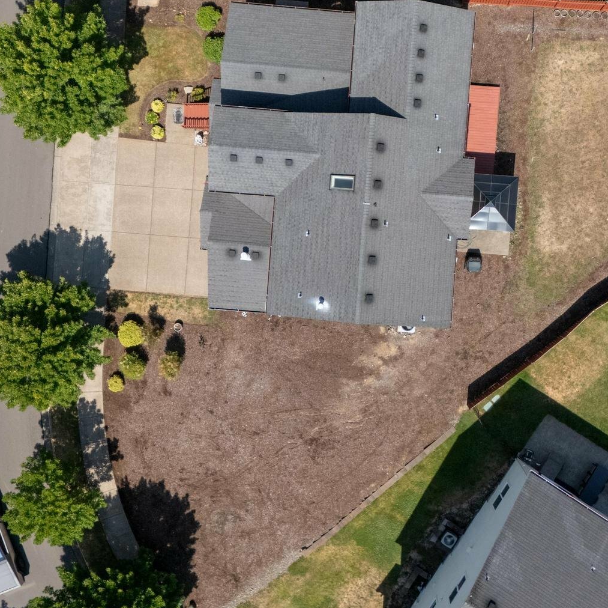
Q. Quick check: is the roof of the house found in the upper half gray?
Yes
